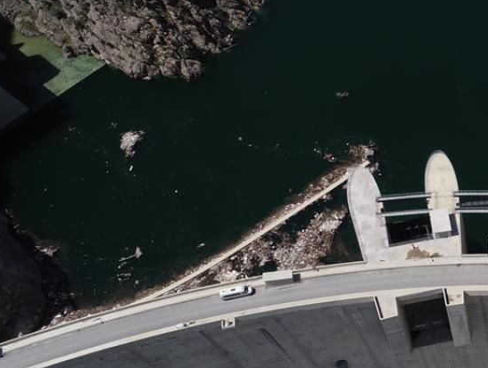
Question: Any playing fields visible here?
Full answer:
No, this view has no playing field in it.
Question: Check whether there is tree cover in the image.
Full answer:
No, tree cover can't be seen anywhere here.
